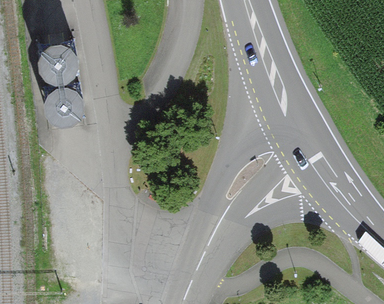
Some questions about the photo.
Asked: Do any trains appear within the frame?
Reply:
No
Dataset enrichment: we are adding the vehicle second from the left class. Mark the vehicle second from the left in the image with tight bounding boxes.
[292,146,307,170]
